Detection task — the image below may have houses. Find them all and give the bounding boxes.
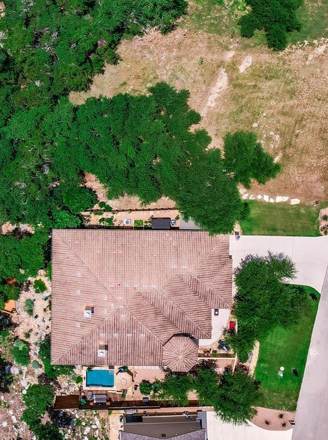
[50,228,233,374]
[121,412,207,440]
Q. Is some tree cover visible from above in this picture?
Yes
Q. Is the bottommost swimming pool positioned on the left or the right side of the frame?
left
